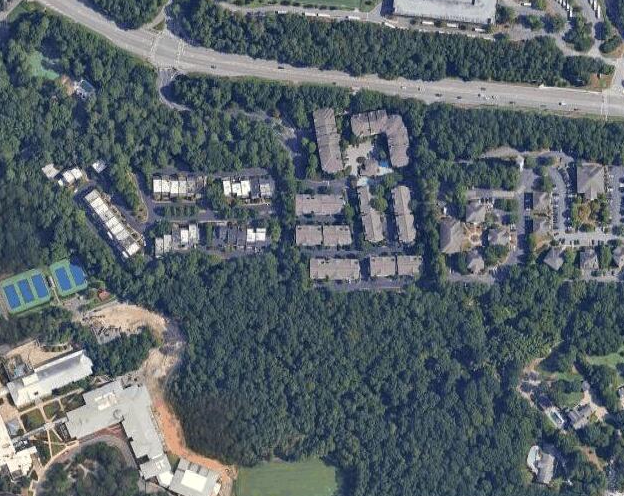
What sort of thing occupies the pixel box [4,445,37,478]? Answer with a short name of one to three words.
building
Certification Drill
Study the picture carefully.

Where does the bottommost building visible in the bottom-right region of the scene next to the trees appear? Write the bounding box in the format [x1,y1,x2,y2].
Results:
[537,454,553,482]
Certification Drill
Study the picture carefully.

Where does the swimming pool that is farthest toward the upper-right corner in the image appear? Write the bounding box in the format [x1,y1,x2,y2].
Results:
[376,158,394,176]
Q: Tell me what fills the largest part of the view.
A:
trees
